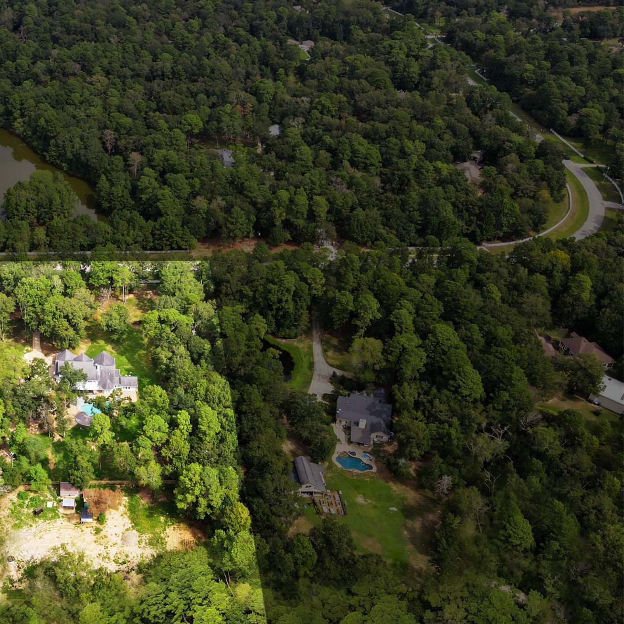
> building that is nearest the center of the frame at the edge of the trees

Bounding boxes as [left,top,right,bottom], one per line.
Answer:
[333,382,394,447]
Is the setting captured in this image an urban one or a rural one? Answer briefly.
rural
